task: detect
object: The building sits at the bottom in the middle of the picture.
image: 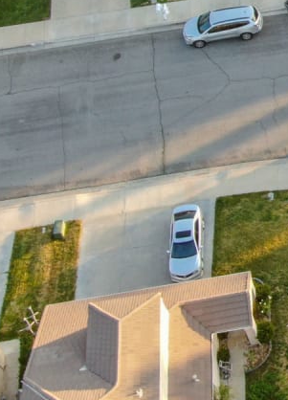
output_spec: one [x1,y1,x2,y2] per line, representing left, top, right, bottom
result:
[12,272,255,400]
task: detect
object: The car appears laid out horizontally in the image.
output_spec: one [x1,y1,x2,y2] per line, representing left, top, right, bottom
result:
[184,0,265,47]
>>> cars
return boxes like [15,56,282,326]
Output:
[163,196,207,284]
[184,0,265,47]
